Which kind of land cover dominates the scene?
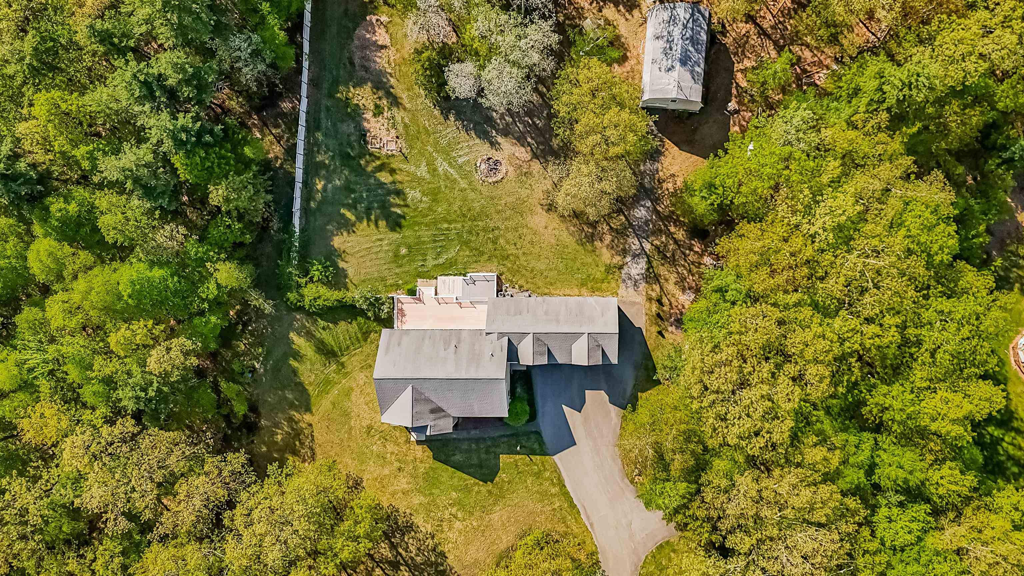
trees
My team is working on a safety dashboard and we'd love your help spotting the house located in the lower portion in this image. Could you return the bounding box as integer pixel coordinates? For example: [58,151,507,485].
[373,296,620,437]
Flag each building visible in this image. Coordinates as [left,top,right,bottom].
[373,296,620,437]
[639,2,712,113]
